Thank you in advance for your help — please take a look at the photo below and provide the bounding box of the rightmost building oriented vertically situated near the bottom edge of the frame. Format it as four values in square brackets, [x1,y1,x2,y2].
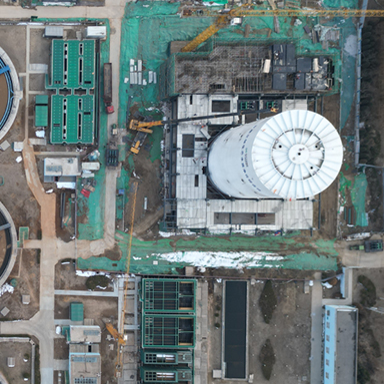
[325,307,357,384]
